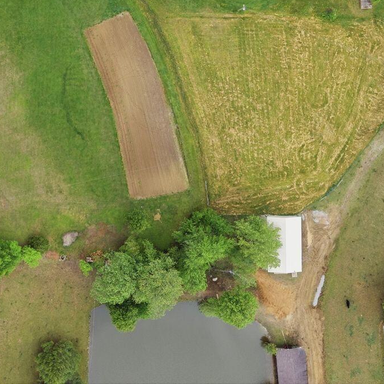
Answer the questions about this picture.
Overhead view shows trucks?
No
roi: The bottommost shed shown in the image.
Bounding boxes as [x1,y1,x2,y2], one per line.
[274,344,307,384]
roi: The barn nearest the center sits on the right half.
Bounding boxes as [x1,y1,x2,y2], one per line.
[265,214,302,275]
